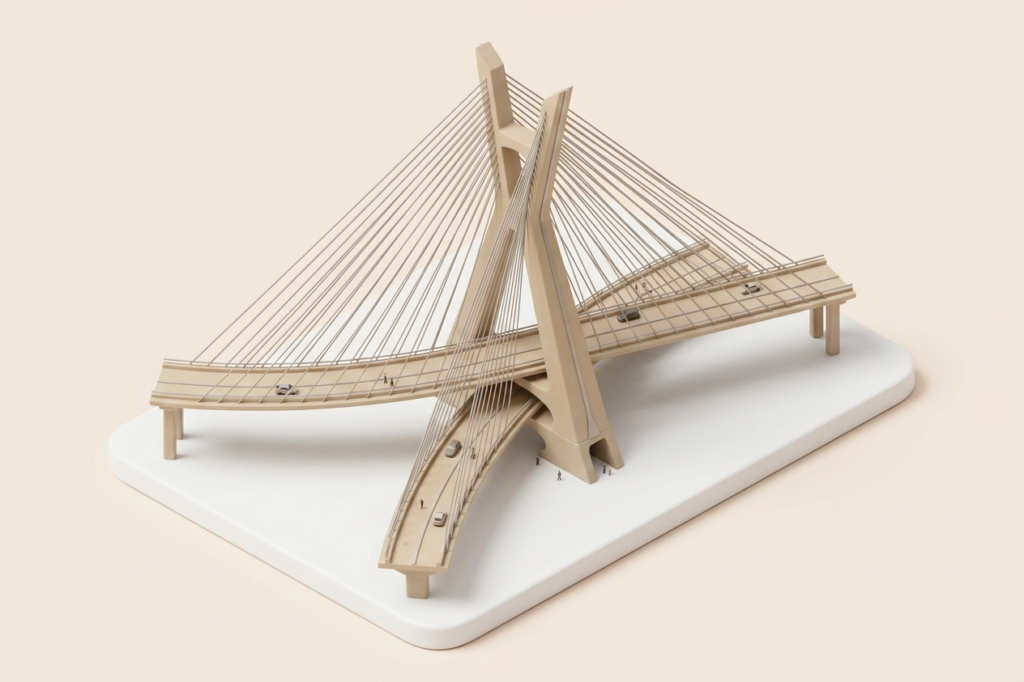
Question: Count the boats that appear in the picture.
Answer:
none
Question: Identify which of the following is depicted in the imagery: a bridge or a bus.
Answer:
bridge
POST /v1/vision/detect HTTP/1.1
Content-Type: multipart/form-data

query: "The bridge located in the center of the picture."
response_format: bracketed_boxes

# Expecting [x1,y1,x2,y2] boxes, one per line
[150,45,855,599]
